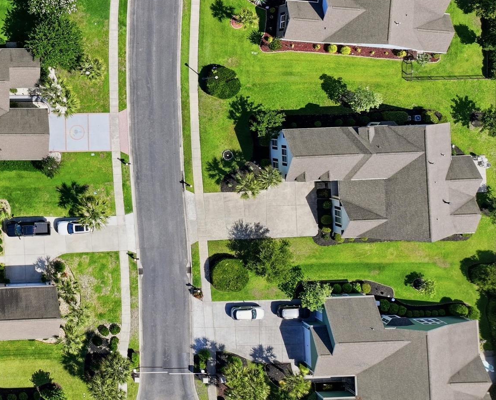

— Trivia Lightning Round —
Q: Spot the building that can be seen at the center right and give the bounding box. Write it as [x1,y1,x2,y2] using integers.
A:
[270,120,485,242]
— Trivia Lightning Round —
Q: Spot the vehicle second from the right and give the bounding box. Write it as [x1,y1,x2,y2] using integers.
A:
[230,305,265,324]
